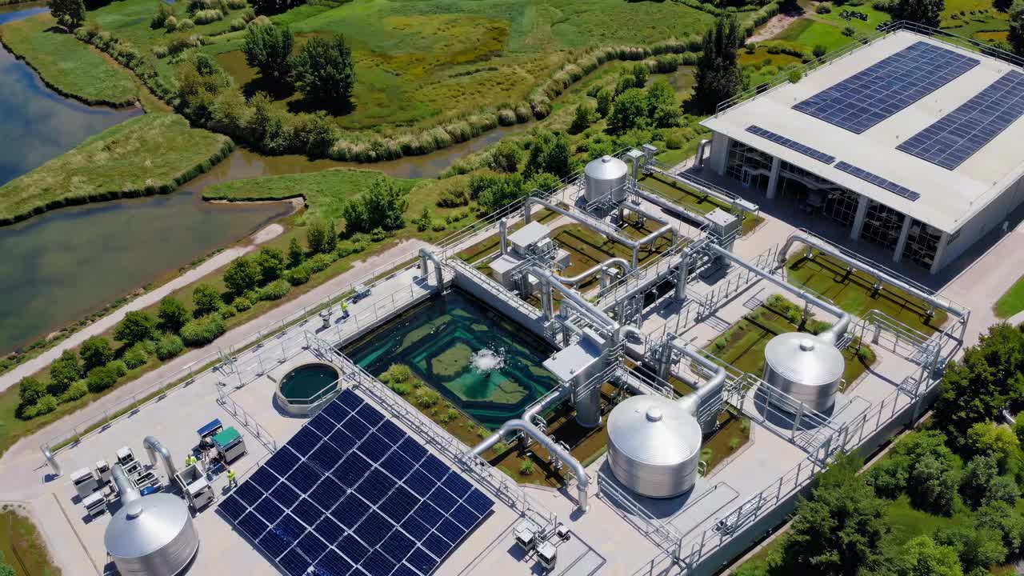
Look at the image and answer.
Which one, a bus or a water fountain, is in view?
water fountain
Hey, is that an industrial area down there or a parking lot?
industrial area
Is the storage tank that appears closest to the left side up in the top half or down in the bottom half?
bottom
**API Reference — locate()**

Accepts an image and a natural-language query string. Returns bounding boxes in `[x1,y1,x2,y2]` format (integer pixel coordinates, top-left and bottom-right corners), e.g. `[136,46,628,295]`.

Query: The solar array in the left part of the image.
[218,390,494,576]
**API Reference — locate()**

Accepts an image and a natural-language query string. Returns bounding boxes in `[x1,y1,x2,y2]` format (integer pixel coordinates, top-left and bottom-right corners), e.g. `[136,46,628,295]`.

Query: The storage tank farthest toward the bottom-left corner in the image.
[99,492,206,576]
